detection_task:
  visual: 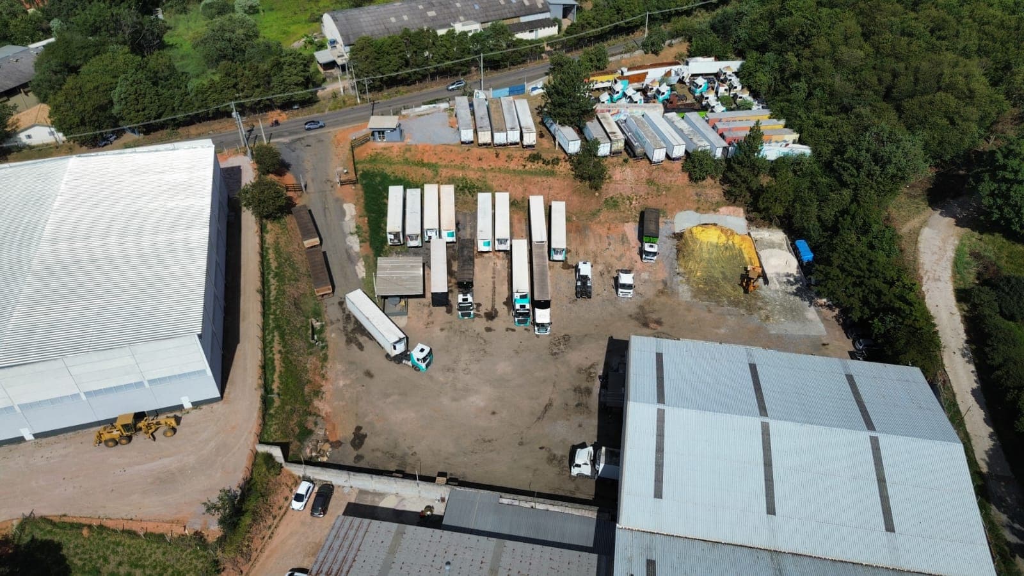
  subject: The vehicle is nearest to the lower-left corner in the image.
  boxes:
[96,415,180,447]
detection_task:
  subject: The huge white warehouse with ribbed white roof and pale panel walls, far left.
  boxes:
[0,134,230,441]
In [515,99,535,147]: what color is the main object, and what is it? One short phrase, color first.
white trailer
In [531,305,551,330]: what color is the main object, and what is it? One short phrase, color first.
white vehicle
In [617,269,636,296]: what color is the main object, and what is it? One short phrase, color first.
white vehicle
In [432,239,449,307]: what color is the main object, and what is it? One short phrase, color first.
white trailer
